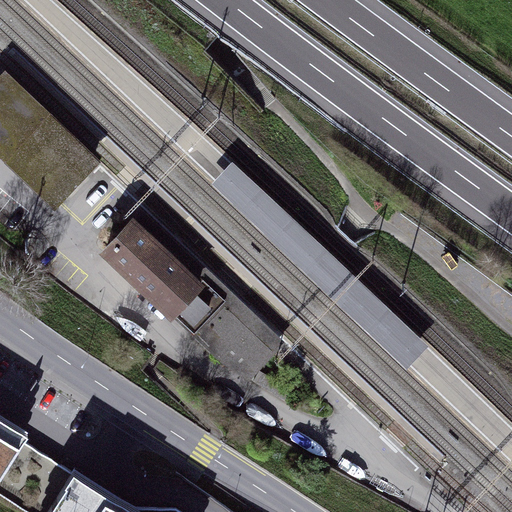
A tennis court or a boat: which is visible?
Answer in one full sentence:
There is a boat in the scene.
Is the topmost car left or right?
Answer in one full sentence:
You can find the topmost car on the left side of the picture.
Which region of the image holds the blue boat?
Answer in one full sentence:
The blue boat is located in the bottom region of the scene.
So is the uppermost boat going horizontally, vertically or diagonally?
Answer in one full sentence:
In this picture, the uppermost boat lies diagonally.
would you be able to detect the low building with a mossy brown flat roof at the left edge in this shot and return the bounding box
[0,64,100,210]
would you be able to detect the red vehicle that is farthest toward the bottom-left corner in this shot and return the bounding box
[40,388,55,410]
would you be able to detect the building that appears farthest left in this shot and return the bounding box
[0,408,32,482]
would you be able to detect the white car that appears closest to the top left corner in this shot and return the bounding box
[85,185,108,207]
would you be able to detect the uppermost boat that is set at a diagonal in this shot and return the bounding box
[113,314,147,341]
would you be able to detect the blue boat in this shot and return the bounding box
[287,428,330,458]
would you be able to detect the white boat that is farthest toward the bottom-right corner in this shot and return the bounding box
[337,457,370,479]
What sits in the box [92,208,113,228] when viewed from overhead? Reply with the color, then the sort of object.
white car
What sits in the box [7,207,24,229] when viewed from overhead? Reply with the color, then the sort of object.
black car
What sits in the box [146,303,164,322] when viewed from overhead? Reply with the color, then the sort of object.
white car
